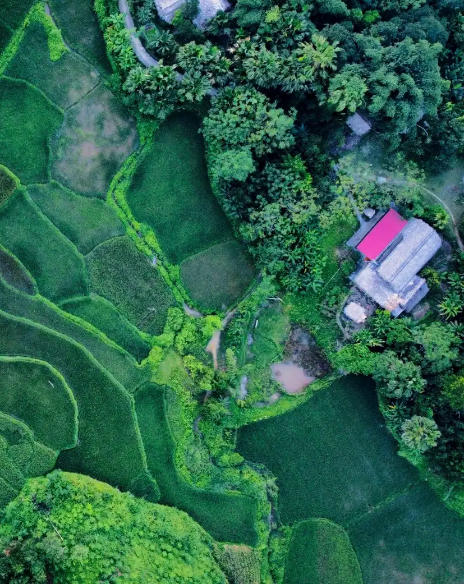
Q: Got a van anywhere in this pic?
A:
No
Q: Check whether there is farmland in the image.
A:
Yes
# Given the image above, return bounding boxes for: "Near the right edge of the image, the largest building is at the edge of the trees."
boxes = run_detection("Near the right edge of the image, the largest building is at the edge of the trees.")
[350,217,443,319]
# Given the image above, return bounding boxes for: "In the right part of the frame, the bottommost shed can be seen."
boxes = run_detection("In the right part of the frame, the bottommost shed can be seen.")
[342,300,367,325]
